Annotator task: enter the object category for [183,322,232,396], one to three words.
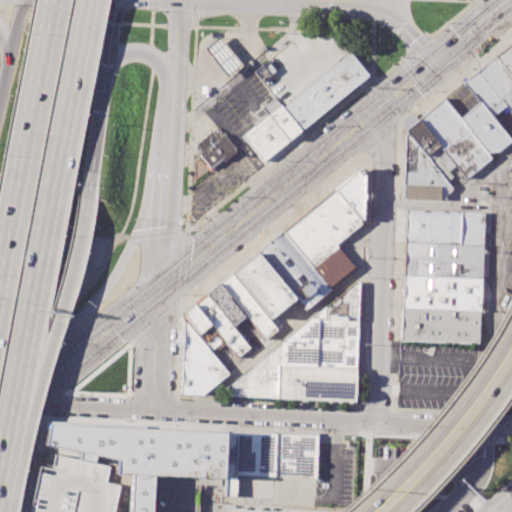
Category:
building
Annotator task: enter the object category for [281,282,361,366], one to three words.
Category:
building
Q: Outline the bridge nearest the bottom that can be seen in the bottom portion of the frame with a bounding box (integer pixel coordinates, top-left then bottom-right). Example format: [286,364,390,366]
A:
[350,310,512,512]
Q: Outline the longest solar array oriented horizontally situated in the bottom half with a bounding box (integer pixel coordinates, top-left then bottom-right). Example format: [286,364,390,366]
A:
[306,384,355,398]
